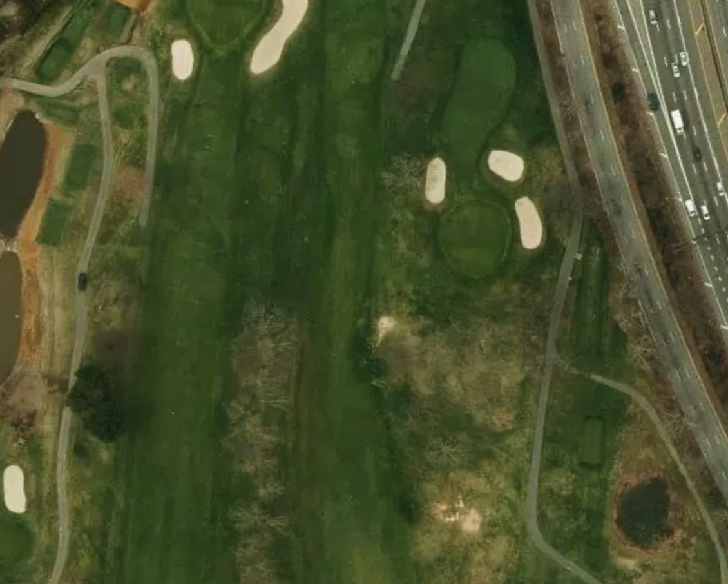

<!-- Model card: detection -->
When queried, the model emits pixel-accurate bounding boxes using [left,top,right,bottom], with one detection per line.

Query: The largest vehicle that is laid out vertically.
[672,109,684,134]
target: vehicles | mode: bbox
[680,50,688,65]
[649,10,658,25]
[716,181,725,195]
[672,109,684,134]
[79,273,86,290]
[648,93,659,109]
[686,199,696,216]
[702,203,710,218]
[693,145,702,160]
[672,62,680,78]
